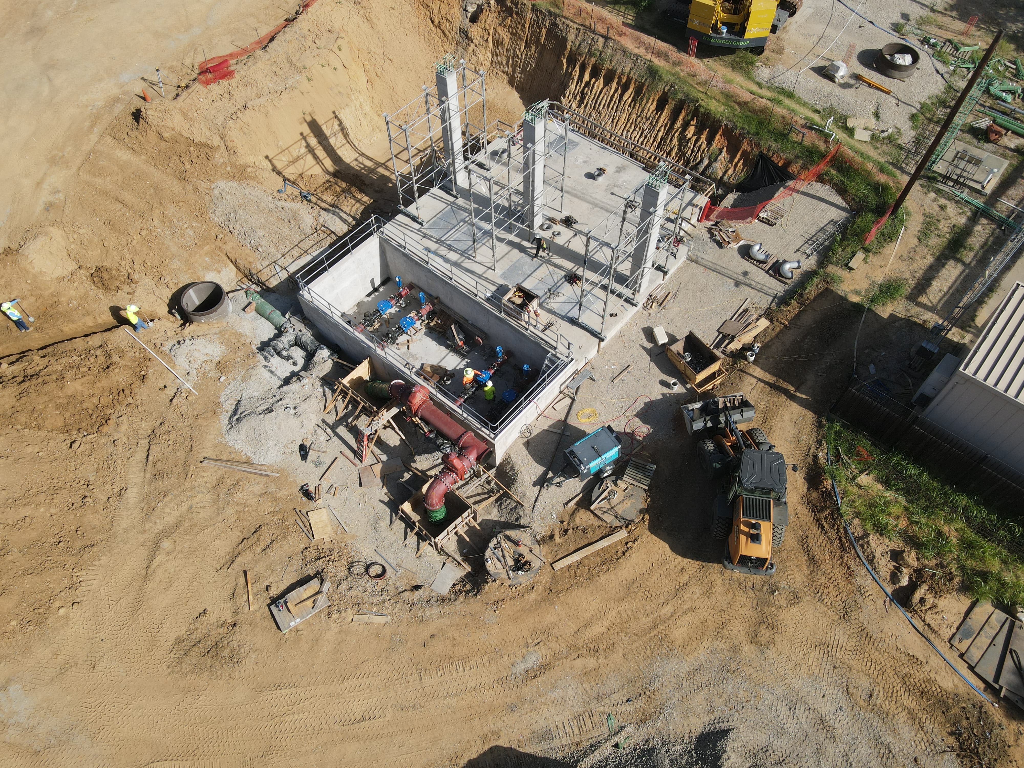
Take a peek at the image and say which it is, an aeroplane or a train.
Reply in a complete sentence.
It is a train that can be seen here.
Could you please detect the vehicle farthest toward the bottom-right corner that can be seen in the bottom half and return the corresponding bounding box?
[679,403,796,574]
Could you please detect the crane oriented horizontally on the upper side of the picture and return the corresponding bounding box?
[670,0,788,51]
